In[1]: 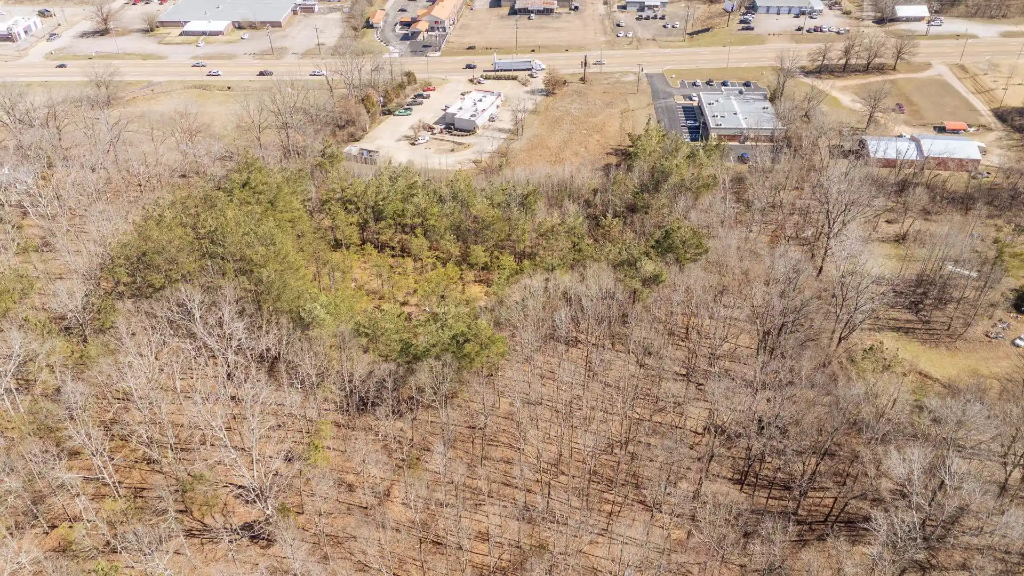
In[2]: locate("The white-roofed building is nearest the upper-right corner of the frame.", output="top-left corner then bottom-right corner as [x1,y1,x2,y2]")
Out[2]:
[884,2,933,22]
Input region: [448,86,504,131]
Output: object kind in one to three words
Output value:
building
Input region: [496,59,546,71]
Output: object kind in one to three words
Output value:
vehicle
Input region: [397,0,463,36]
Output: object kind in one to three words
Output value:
building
